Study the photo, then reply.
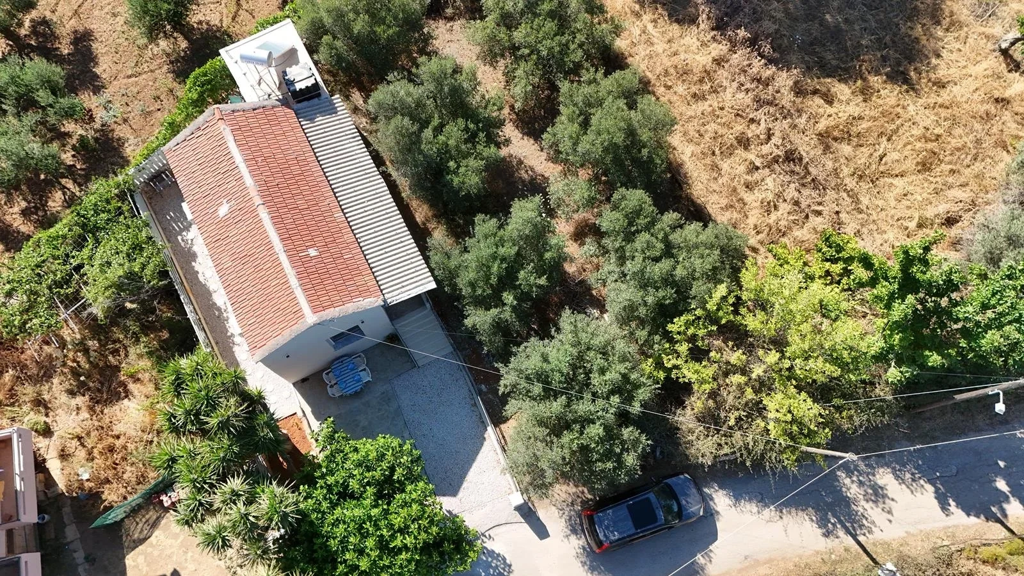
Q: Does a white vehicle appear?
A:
No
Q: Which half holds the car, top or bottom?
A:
bottom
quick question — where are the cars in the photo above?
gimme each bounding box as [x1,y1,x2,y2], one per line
[579,473,702,555]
